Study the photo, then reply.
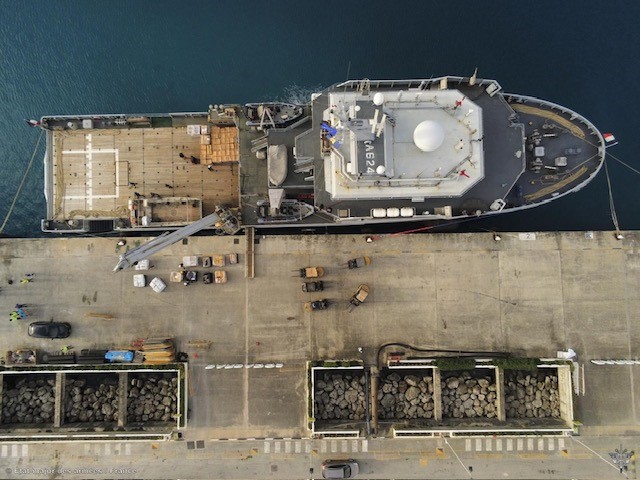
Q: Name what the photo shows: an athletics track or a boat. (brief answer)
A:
boat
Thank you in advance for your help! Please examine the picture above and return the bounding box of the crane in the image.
[114,198,251,272]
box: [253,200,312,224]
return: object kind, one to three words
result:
boat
